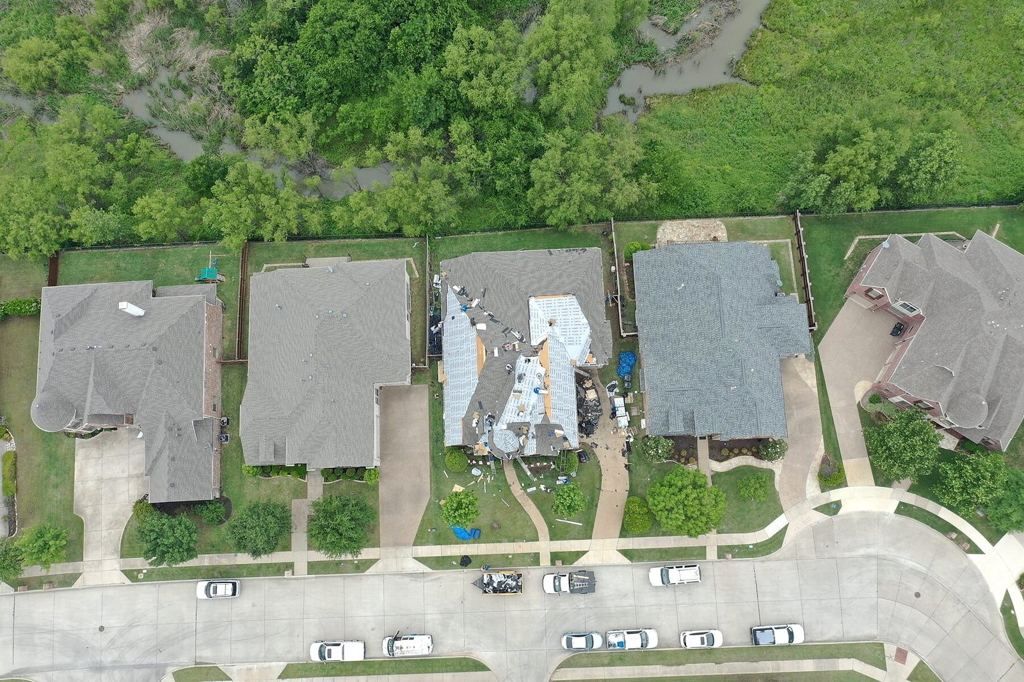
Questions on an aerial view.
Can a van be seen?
Yes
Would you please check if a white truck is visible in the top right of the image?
No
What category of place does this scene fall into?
residential area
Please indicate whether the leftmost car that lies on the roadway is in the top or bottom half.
bottom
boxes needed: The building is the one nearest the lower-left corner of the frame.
[29,280,224,504]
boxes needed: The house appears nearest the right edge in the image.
[845,228,1024,453]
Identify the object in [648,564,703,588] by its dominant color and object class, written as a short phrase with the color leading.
white car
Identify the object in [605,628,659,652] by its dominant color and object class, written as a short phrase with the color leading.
white truck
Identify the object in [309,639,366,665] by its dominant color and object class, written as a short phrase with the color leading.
white truck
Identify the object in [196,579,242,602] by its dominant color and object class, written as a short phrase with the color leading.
white car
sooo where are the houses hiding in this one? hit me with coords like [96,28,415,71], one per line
[629,241,811,441]
[239,259,414,471]
[29,280,224,504]
[845,228,1024,453]
[440,247,613,462]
